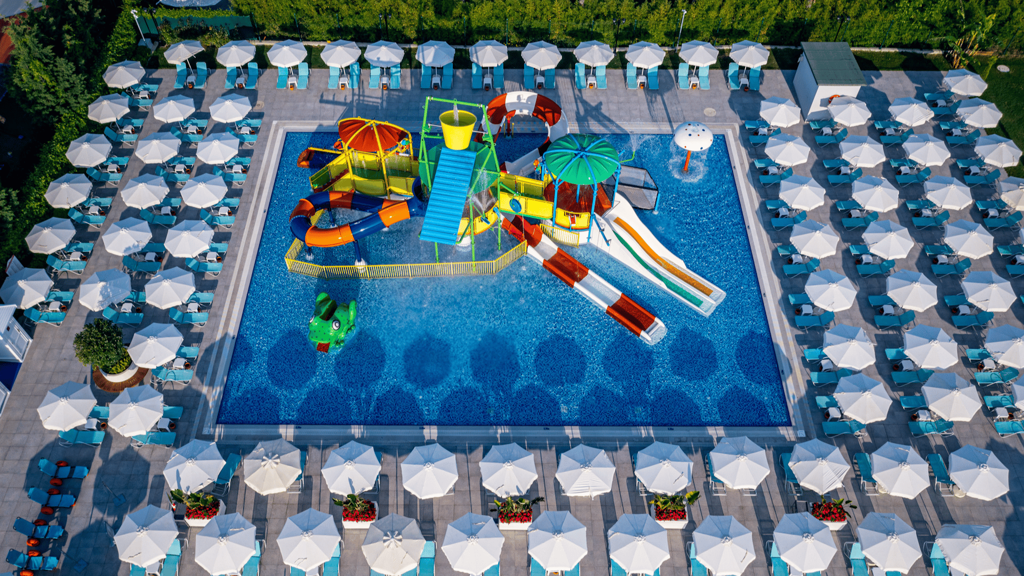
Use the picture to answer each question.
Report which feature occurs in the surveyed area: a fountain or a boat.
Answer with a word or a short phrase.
fountain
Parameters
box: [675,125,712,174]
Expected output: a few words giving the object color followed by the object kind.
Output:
white fountain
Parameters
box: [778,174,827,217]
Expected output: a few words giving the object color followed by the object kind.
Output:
white umbrella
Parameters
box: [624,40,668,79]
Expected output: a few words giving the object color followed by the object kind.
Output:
white umbrella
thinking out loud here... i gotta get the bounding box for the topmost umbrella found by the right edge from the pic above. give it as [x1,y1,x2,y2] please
[943,68,986,107]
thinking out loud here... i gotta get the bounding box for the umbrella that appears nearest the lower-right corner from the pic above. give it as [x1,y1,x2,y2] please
[936,515,1004,576]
